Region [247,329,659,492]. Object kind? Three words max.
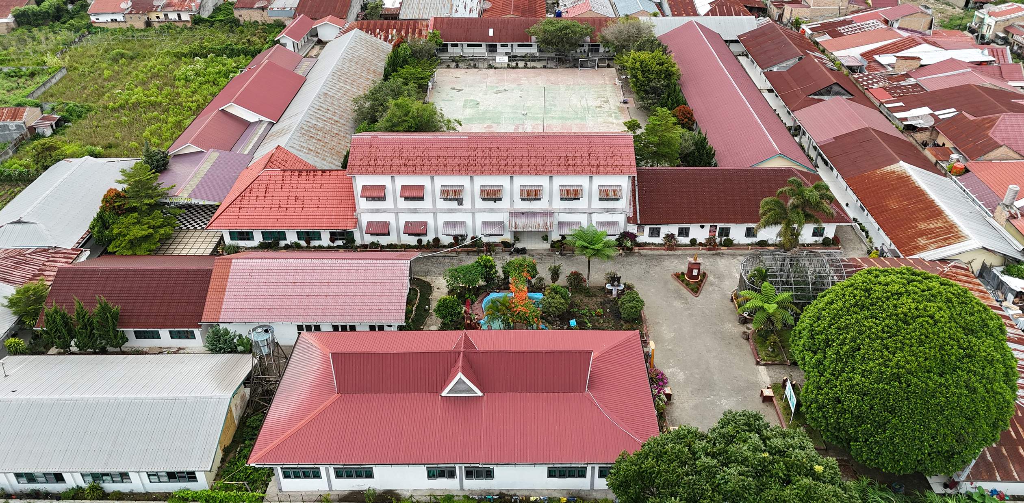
building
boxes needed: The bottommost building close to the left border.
[0,354,255,490]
